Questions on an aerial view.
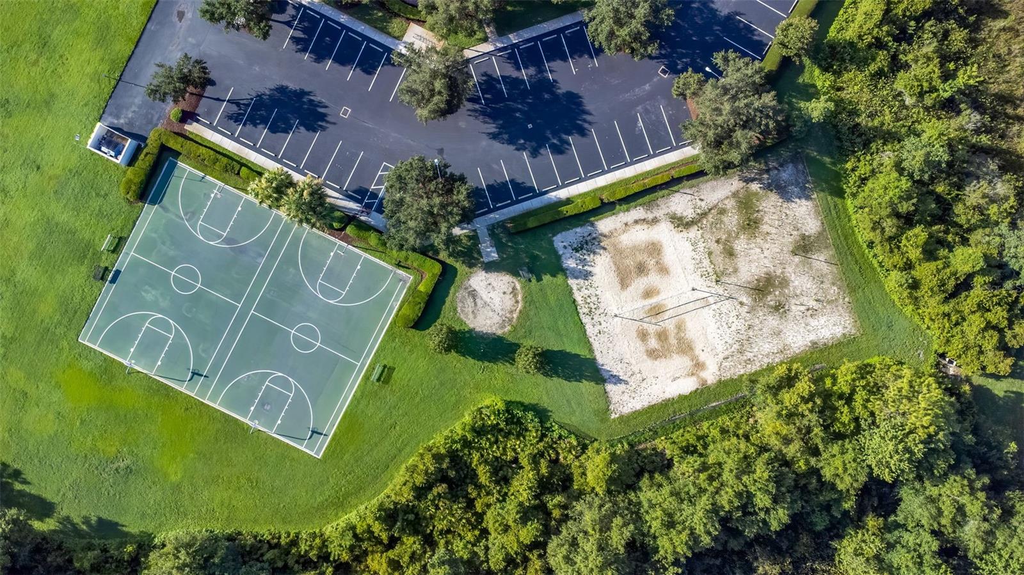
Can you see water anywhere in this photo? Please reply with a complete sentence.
No, there is no water in the image.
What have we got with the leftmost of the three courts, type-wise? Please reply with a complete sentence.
Looking closely, the leftmost of the three courts is a basketball court.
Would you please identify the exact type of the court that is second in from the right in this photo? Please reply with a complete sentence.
The court that is second in from the right can be classified as a basketball court.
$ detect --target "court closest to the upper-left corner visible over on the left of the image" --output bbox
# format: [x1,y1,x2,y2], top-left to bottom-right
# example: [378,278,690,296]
[78,156,291,400]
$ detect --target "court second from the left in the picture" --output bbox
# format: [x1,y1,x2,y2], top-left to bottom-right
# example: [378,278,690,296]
[198,218,413,459]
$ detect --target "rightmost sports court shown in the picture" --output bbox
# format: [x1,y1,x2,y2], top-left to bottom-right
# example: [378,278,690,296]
[553,152,859,417]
